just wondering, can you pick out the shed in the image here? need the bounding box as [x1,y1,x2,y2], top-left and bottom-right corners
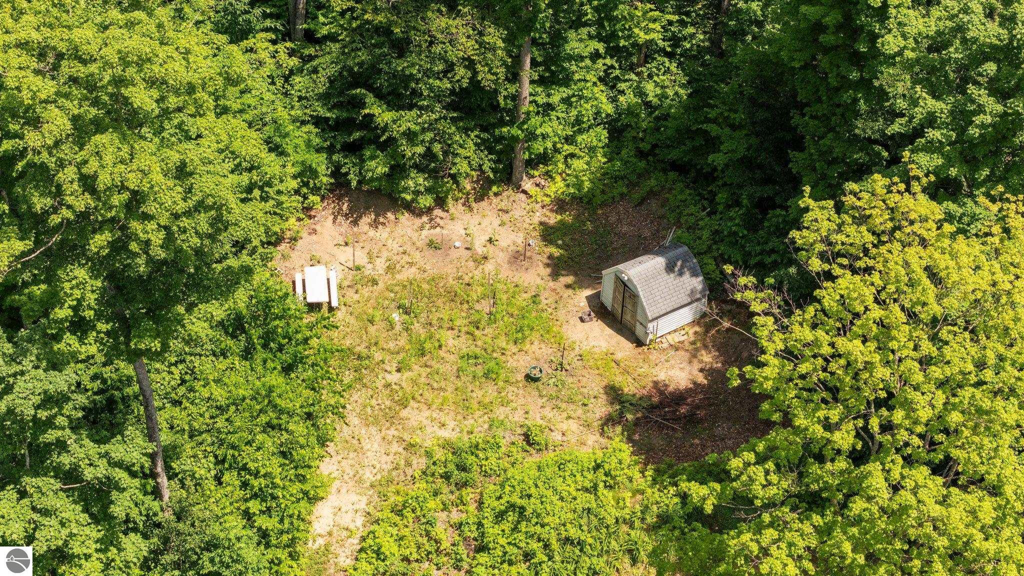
[597,238,710,344]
